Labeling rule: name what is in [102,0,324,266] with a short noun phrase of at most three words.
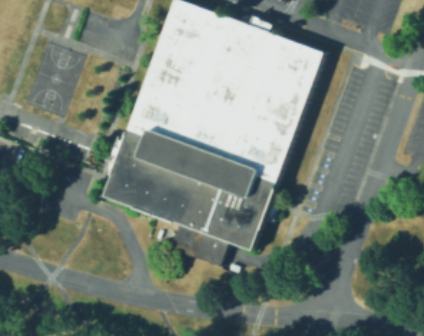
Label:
building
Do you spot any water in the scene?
No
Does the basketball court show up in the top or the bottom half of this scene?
top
